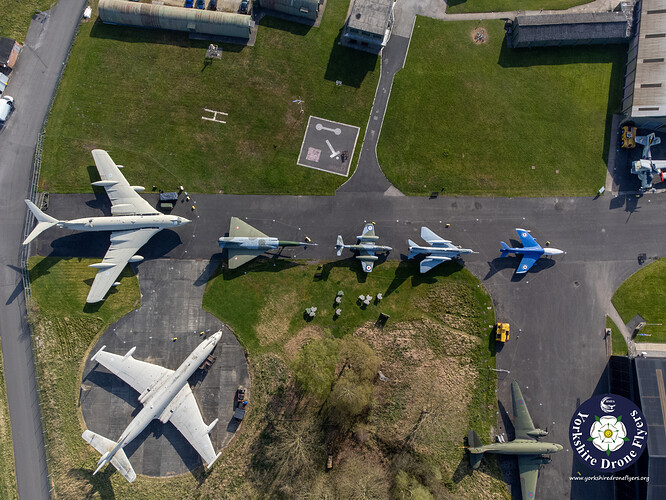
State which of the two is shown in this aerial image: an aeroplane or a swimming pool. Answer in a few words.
aeroplane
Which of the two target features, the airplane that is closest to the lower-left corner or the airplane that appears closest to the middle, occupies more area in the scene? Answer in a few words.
the airplane that is closest to the lower-left corner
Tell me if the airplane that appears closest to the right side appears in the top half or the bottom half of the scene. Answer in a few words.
top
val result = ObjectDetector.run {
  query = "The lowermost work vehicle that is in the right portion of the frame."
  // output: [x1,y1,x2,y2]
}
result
[495,323,511,342]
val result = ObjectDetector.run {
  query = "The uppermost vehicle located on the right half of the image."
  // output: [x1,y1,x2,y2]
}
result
[620,127,637,149]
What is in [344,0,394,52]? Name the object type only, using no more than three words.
building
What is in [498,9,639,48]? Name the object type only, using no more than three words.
shed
